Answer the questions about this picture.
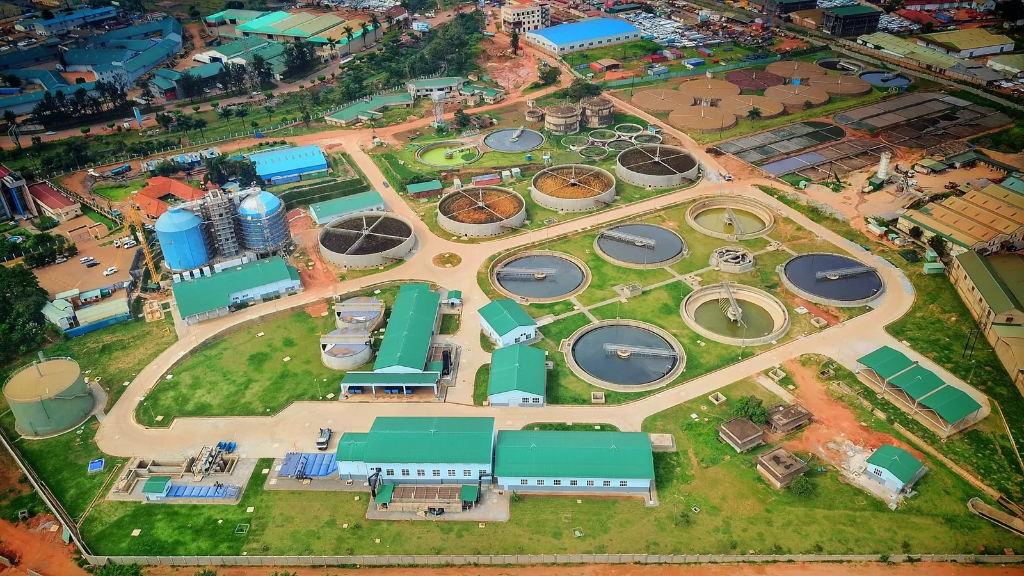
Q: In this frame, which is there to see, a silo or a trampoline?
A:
silo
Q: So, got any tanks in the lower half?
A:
Yes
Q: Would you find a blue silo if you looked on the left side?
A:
Yes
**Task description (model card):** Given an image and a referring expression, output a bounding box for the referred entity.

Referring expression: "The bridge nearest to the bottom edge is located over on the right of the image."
[603,344,681,359]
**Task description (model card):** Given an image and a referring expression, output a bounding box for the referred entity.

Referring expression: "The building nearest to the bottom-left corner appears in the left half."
[141,475,174,502]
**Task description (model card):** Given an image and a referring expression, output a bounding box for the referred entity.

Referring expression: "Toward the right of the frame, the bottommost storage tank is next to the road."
[555,320,684,393]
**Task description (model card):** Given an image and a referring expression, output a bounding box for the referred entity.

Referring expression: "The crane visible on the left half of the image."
[114,185,164,285]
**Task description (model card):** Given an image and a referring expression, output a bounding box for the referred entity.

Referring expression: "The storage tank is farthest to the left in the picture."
[0,348,92,431]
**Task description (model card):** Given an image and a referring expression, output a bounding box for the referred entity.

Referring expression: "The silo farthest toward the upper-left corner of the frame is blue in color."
[151,206,214,277]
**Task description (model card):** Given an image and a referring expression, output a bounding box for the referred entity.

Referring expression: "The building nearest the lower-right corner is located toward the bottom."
[867,444,924,493]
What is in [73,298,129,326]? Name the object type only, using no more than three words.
shed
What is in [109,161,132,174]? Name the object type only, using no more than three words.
vehicle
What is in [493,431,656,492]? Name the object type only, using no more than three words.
building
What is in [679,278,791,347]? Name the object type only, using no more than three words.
storage tank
